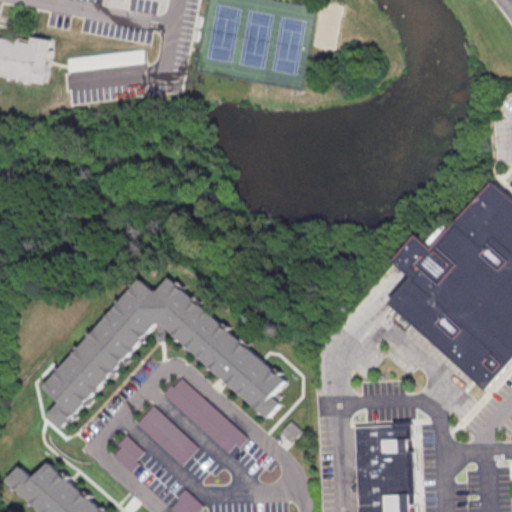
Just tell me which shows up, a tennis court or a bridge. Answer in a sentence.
Of the two, only a tennis court appears.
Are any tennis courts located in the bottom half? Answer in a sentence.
No, I see no tennis court in the bottom half.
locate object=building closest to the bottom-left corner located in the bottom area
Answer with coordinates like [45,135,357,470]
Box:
[2,464,106,512]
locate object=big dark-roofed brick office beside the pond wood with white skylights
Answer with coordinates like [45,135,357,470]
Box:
[390,182,512,392]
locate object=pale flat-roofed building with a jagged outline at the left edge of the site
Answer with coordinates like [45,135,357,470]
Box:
[0,37,55,84]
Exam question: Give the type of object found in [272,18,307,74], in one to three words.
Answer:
tennis court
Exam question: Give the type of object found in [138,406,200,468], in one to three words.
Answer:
building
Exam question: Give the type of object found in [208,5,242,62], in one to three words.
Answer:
tennis court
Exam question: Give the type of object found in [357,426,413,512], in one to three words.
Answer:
building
